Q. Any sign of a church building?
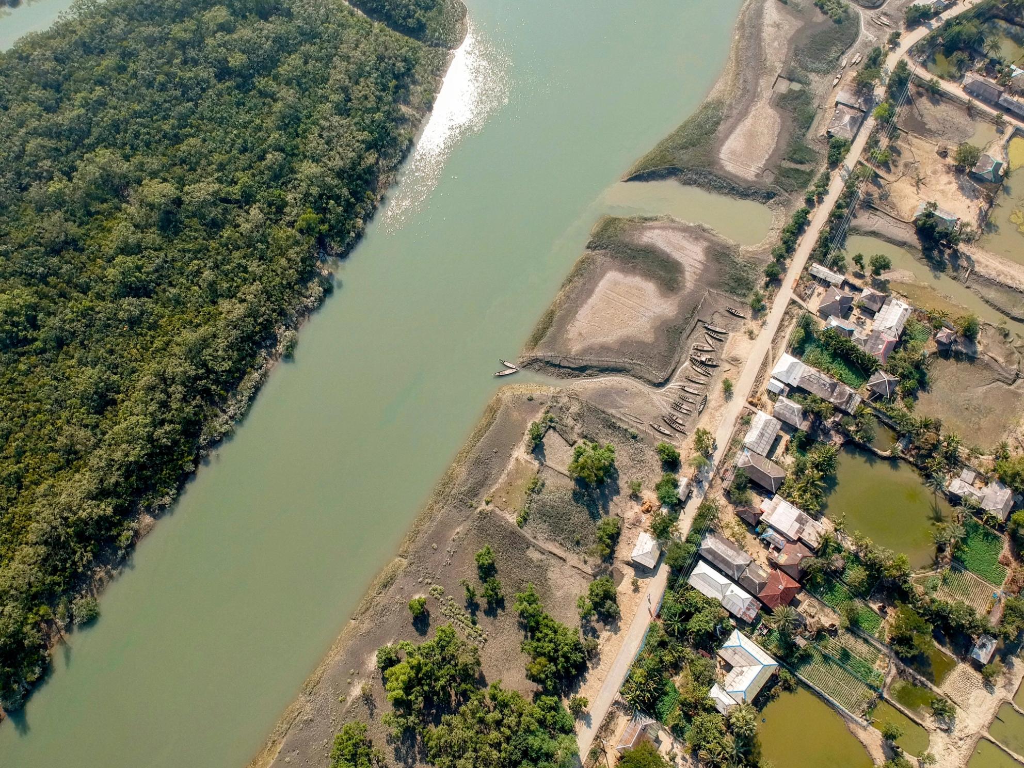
No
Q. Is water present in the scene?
Yes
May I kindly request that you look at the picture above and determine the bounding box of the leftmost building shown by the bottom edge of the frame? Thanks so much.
[615,712,660,759]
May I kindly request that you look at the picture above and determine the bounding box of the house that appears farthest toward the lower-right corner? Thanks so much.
[966,634,998,664]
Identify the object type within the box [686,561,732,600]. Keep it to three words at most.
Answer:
house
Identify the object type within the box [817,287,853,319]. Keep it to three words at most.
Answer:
house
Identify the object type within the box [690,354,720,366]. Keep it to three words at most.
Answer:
boat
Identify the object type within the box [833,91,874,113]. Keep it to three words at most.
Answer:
shed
